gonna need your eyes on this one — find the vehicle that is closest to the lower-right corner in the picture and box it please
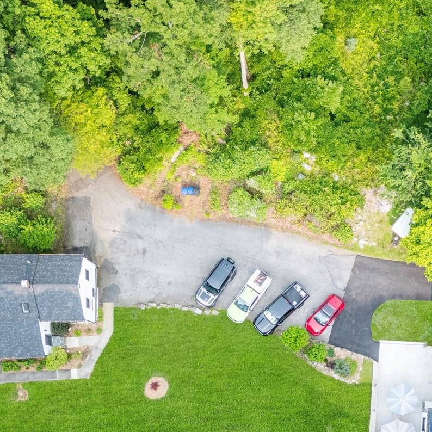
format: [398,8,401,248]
[308,291,345,338]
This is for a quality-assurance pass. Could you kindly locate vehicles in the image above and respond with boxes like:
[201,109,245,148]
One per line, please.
[255,277,310,338]
[308,291,345,338]
[199,258,235,306]
[227,263,274,328]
